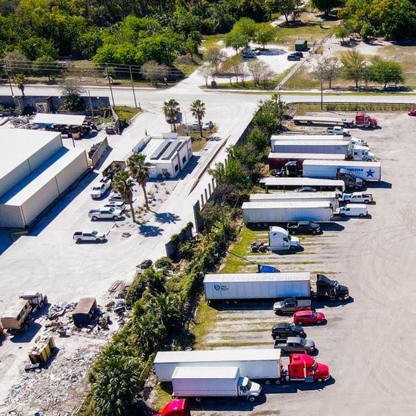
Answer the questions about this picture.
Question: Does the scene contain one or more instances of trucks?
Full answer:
Yes, looking at the shot, I can spot a truck.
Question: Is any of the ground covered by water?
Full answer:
No, the picture contains no water.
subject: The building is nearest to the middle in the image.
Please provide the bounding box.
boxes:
[124,136,192,178]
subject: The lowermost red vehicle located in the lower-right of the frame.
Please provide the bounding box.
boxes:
[270,349,335,384]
